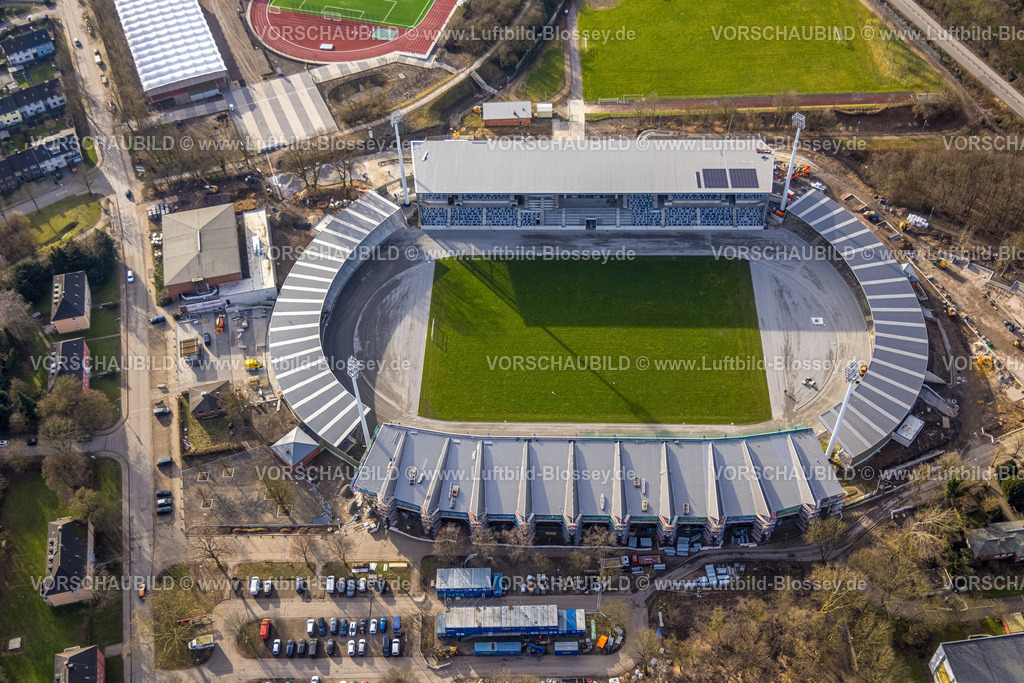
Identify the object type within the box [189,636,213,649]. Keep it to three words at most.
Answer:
vehicle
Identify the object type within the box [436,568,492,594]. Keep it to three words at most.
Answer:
shipping container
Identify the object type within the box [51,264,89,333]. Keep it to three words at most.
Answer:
building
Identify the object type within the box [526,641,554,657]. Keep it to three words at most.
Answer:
work vehicle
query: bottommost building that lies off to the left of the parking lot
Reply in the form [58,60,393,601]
[53,640,102,683]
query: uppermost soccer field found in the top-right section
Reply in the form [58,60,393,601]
[579,0,943,102]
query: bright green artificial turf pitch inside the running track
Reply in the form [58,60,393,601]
[273,0,431,27]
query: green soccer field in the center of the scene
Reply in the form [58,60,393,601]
[419,257,772,423]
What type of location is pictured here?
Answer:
sports ground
